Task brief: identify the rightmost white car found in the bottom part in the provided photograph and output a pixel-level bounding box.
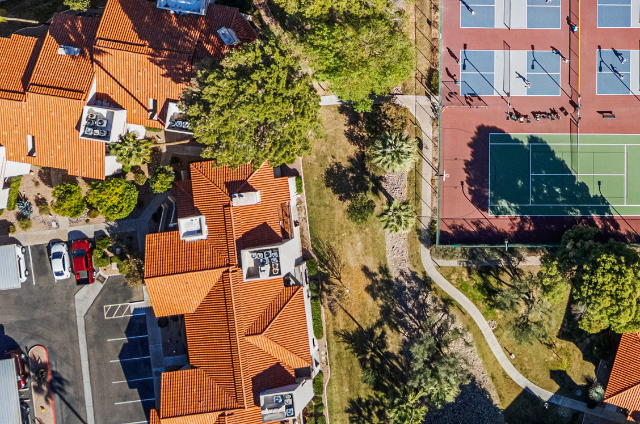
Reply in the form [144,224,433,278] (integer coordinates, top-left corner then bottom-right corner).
[45,243,67,280]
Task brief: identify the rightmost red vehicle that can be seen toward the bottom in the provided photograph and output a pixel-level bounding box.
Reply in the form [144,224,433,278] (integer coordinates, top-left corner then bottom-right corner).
[68,241,91,283]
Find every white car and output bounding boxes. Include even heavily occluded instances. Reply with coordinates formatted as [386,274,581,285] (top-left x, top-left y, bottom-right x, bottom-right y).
[17,246,30,282]
[45,243,67,280]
